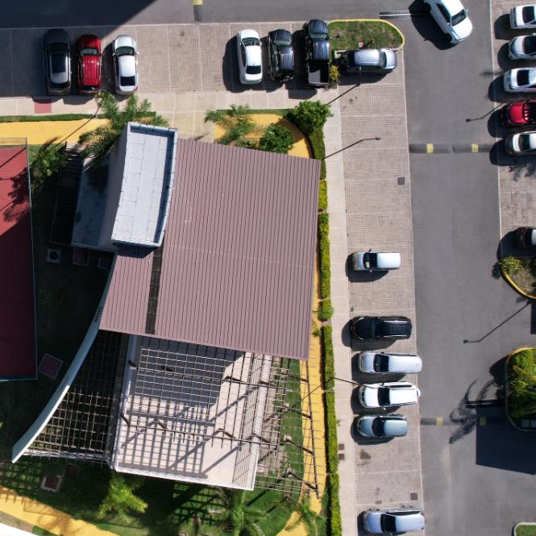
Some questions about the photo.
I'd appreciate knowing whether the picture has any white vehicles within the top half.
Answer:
Yes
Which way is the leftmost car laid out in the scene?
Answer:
from top to bottom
